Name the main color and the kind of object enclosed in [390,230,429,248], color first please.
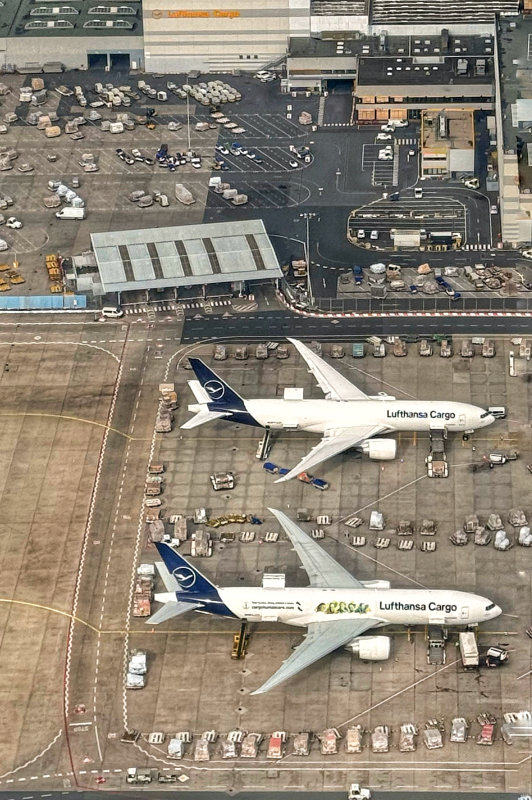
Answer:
white vehicle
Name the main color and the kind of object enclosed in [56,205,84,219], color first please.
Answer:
white vehicle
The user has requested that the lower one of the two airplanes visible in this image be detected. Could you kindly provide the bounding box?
[146,509,502,694]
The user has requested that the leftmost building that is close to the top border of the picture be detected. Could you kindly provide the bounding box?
[0,0,142,71]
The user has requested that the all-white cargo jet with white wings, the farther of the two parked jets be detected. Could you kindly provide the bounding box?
[181,338,495,483]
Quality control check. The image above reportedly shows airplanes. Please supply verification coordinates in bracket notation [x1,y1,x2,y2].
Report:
[181,338,495,483]
[146,509,502,694]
